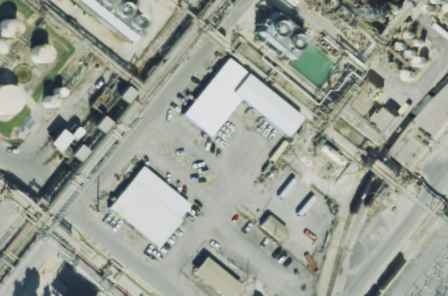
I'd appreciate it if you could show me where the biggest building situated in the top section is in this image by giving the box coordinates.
[180,57,305,140]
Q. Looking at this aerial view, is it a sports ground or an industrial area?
industrial area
